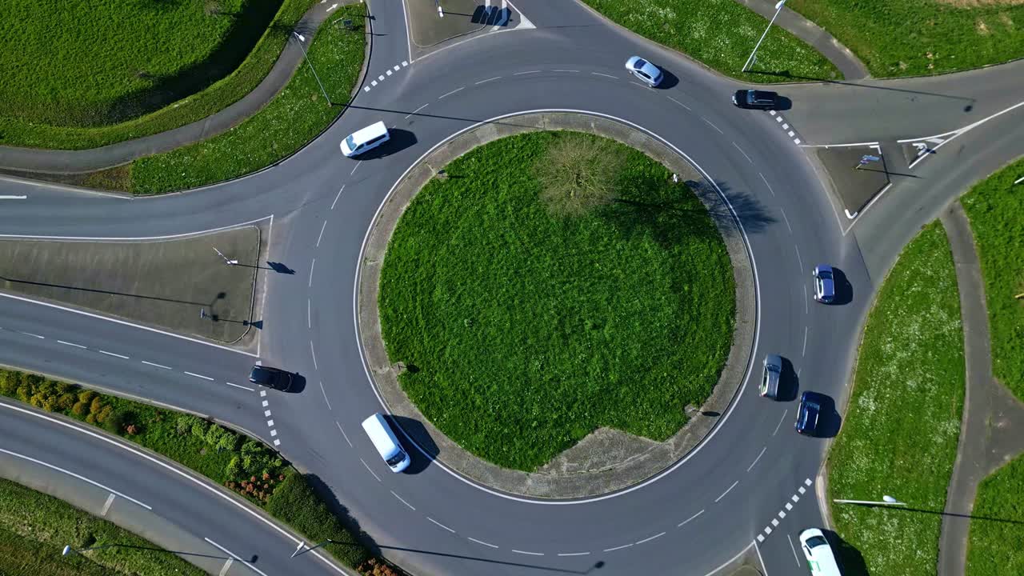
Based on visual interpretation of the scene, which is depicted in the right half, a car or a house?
car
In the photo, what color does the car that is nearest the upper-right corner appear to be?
black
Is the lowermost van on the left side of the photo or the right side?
right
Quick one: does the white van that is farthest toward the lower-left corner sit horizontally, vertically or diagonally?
diagonally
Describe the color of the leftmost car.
black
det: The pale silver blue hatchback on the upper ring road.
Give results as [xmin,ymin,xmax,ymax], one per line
[625,56,664,88]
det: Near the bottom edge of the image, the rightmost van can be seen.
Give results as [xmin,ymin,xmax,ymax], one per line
[801,529,844,576]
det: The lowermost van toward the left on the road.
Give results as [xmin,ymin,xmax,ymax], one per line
[362,413,410,472]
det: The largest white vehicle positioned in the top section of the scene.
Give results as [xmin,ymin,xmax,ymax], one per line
[339,121,390,158]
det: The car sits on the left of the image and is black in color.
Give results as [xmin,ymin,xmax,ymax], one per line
[248,365,295,391]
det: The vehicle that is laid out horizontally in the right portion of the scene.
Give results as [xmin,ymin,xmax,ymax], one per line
[732,87,777,109]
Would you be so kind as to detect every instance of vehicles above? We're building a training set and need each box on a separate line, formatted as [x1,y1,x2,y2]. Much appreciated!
[248,365,295,391]
[732,87,777,109]
[813,263,837,303]
[625,56,664,88]
[794,390,822,436]
[801,529,844,576]
[759,353,785,399]
[362,413,410,472]
[339,121,390,158]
